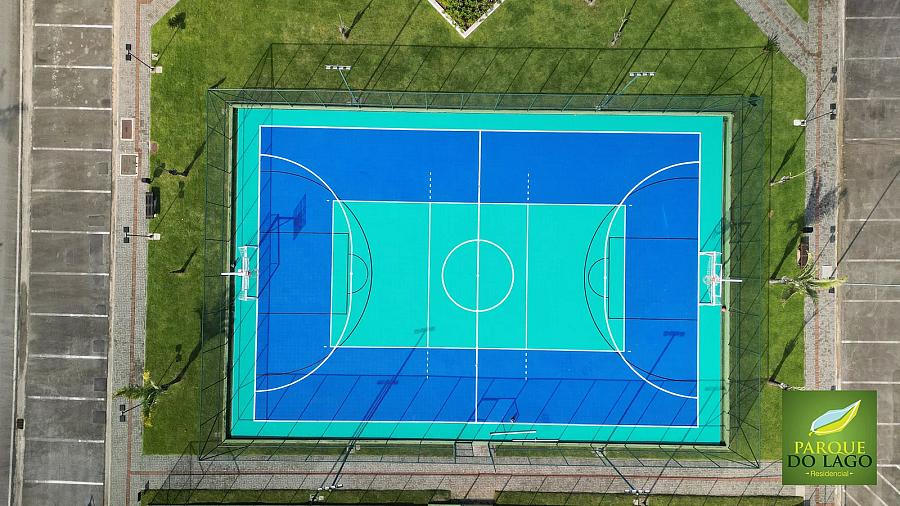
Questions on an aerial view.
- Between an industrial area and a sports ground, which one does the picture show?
sports ground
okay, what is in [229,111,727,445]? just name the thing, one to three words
sports court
